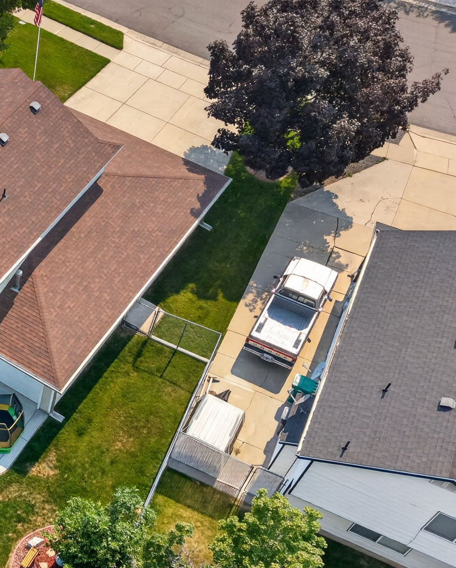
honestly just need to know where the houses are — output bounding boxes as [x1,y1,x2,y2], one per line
[0,69,235,418]
[265,232,456,568]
